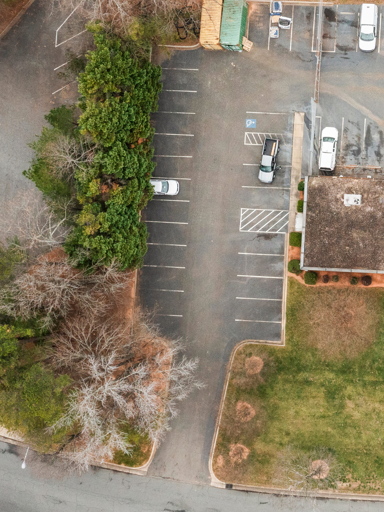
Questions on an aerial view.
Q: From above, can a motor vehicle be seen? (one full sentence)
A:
Yes, the picture does show a motor vehicle.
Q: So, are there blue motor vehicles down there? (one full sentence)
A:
No, there's no blue motor vehicle here.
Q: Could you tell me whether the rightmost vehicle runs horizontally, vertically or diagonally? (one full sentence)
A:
The rightmost vehicle runs vertically in the image.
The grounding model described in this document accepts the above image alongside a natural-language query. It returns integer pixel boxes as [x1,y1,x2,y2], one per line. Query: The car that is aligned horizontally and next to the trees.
[140,178,179,197]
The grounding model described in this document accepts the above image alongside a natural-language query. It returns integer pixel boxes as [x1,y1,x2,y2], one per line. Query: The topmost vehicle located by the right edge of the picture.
[357,2,378,53]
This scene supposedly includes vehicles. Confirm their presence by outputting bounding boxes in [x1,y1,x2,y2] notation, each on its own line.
[318,127,338,173]
[140,178,179,197]
[357,2,378,53]
[257,138,283,183]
